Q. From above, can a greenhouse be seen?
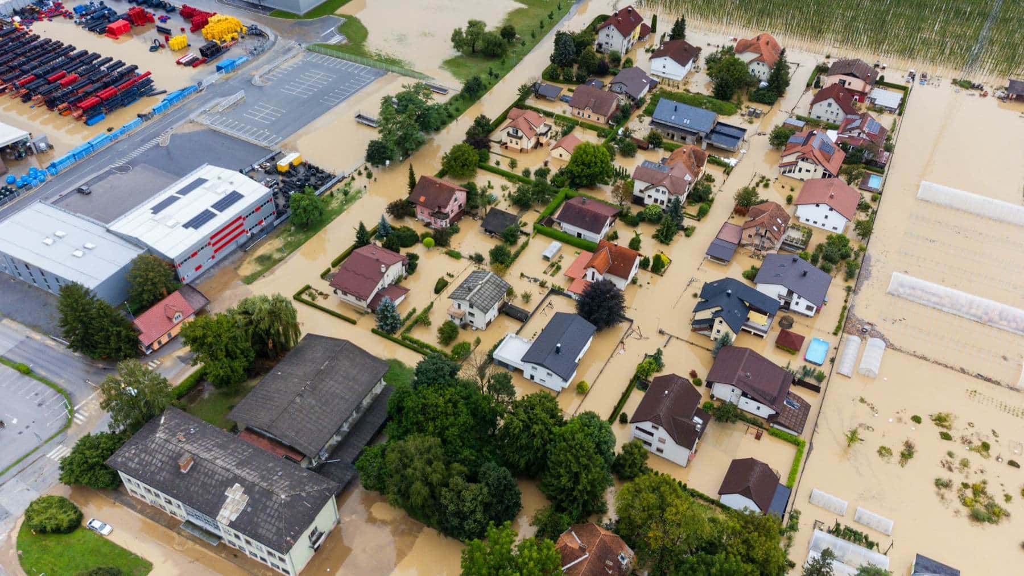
Yes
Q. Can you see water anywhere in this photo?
Yes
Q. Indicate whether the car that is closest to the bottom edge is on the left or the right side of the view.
left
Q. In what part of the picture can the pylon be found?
top right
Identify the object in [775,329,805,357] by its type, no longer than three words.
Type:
gazebo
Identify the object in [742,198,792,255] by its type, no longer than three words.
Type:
house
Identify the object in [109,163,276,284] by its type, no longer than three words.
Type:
building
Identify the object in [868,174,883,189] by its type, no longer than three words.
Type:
swimming pool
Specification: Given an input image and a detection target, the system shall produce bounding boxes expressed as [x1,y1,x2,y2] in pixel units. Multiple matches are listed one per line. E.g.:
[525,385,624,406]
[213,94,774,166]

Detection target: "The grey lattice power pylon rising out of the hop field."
[945,0,1010,86]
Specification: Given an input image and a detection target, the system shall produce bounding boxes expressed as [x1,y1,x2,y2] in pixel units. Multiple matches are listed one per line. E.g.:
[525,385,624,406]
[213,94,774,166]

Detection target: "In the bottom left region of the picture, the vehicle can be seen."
[83,516,117,539]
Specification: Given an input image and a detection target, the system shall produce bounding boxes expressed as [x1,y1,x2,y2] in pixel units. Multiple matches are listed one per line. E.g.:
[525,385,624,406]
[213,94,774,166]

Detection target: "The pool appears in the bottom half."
[804,337,829,368]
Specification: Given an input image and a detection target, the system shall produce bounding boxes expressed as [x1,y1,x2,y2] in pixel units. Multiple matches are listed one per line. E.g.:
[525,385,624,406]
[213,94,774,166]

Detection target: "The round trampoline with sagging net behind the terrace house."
[777,312,798,329]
